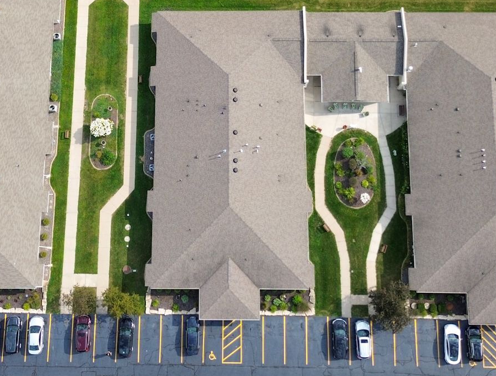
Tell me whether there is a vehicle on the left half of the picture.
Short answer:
Yes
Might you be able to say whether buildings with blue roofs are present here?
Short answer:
No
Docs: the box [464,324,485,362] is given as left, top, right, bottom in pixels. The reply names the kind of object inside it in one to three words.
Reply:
car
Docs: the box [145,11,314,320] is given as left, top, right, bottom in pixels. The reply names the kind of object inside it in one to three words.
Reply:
building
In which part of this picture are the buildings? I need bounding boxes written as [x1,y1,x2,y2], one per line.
[0,0,60,288]
[403,12,496,325]
[145,11,314,320]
